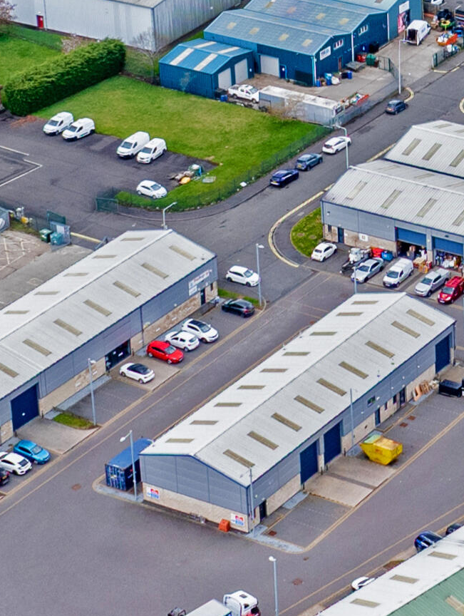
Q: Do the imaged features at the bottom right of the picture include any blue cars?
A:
Yes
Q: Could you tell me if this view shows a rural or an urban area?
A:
urban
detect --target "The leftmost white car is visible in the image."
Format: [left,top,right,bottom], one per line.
[0,456,30,475]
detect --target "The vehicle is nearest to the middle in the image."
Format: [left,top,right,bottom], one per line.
[220,299,256,317]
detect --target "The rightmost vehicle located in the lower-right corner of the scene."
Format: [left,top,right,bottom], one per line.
[437,520,464,534]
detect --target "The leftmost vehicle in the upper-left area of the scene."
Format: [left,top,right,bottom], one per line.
[45,113,72,134]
